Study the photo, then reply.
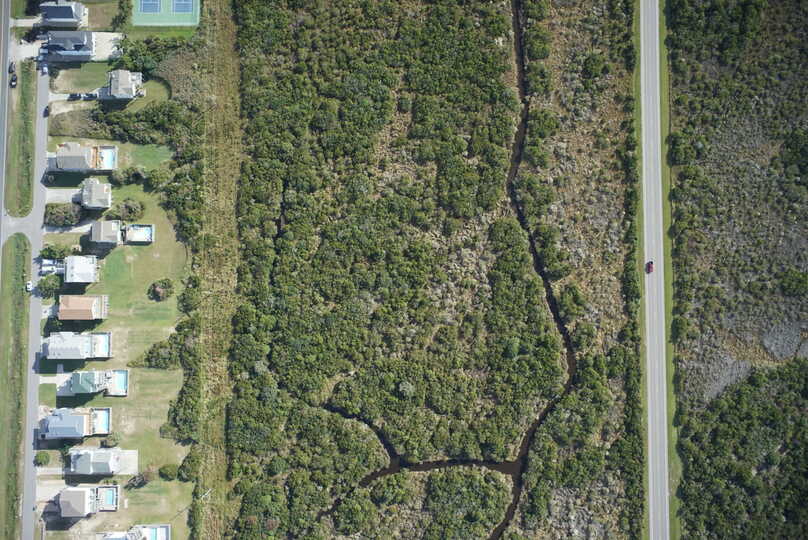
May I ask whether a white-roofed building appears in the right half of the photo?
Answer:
No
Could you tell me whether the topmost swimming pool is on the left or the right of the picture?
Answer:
left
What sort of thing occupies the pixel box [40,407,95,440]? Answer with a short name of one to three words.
house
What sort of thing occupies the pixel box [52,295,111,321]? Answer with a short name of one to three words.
house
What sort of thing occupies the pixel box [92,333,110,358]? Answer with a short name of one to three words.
swimming pool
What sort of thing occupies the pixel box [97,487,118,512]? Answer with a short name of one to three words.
swimming pool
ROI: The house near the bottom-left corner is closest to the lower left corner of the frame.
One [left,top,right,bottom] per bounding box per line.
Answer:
[58,485,99,518]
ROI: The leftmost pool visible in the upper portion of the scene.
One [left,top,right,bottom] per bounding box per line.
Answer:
[97,146,118,169]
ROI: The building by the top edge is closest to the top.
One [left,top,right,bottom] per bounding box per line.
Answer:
[39,0,88,31]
